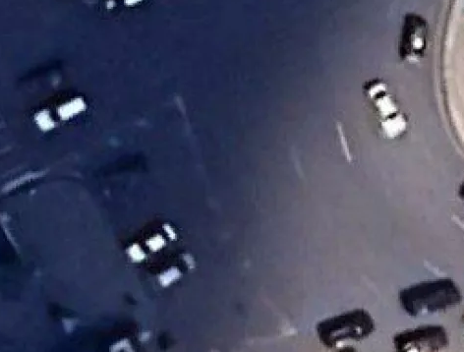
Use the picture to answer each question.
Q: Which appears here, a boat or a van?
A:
van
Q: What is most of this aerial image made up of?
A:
paved ground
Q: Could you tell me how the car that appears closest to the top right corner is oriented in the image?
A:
vertically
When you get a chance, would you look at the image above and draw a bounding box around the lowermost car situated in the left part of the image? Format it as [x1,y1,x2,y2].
[149,252,193,285]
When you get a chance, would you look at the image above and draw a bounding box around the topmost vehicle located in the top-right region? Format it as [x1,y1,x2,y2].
[401,16,425,61]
